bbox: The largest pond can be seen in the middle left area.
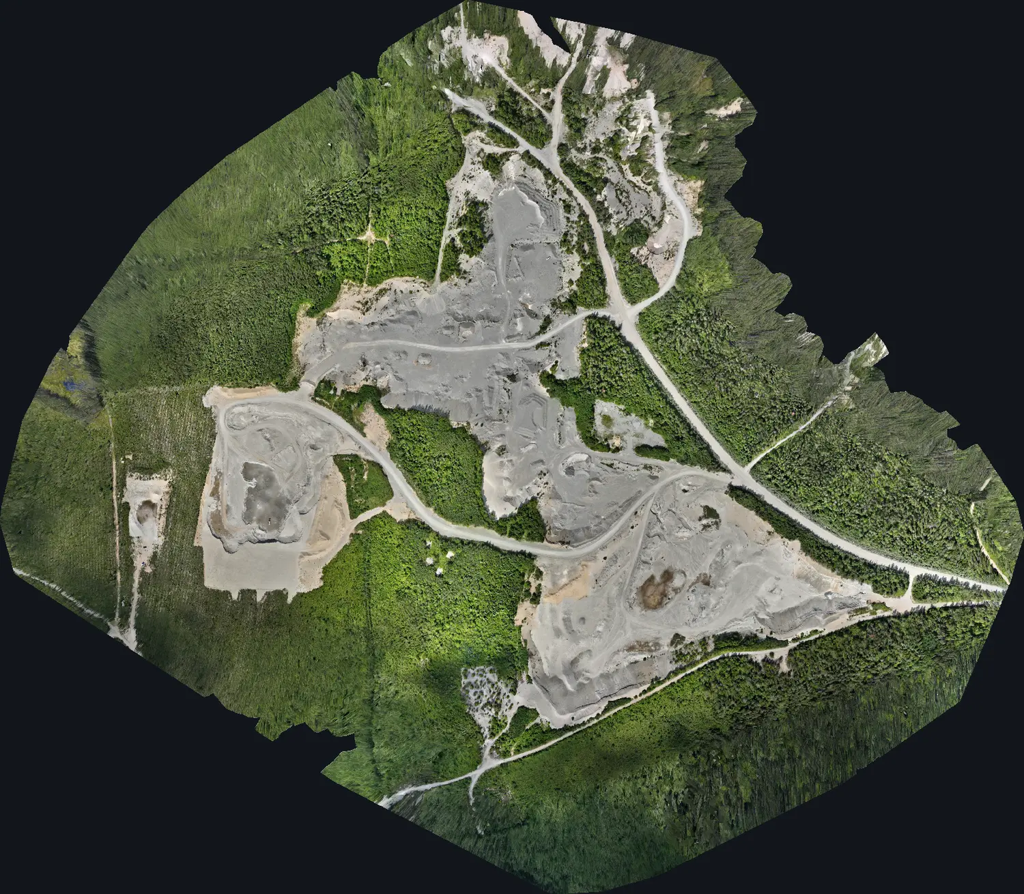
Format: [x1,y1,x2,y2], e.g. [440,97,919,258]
[243,463,292,533]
